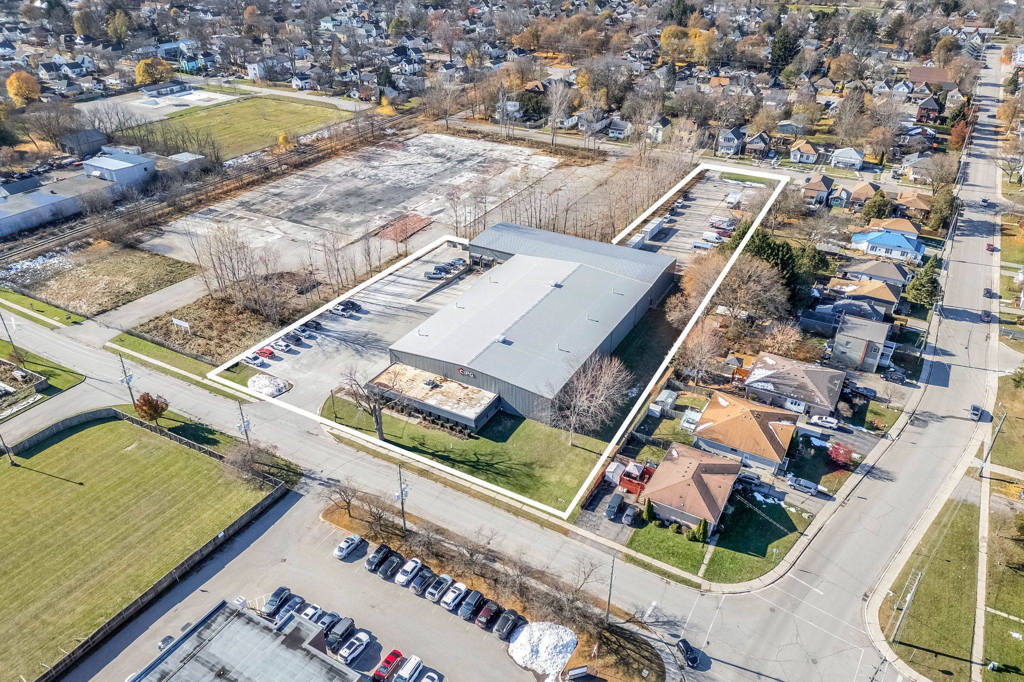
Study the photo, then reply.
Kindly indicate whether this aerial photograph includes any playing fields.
Yes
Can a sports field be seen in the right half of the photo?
No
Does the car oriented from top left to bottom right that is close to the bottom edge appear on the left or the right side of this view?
right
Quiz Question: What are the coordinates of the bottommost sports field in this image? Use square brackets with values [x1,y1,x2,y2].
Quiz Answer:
[0,416,272,682]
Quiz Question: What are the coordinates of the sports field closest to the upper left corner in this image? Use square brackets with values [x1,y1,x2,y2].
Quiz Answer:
[122,97,351,159]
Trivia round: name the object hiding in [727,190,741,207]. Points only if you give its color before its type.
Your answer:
white vehicle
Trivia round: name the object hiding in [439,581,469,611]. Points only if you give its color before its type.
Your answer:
white car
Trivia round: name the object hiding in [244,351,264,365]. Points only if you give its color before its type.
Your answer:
white car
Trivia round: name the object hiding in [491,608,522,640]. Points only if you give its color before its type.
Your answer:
gray car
